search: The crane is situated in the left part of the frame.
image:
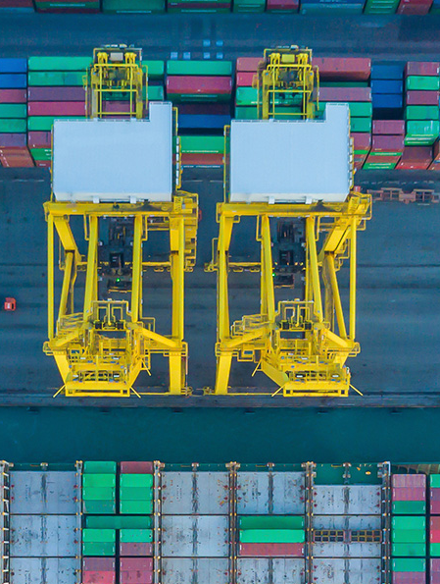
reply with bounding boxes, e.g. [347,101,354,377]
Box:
[39,46,207,399]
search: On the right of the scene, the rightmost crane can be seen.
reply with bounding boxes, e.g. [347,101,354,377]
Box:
[195,47,376,400]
